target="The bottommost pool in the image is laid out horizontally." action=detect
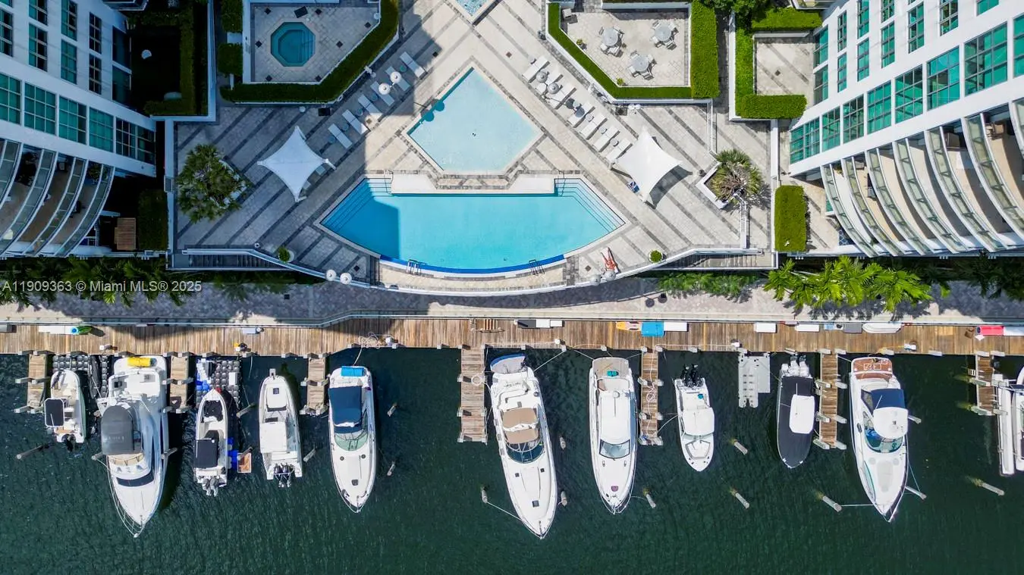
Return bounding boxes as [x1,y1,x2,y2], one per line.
[309,171,636,277]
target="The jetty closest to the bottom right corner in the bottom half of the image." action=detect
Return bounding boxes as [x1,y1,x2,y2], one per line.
[959,355,1009,416]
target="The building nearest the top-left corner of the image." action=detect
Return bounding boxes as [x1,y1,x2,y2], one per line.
[0,0,157,255]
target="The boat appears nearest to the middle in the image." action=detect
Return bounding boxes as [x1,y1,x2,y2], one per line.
[488,353,527,373]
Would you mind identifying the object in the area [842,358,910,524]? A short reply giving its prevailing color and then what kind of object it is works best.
white boat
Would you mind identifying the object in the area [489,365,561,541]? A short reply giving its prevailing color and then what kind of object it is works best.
white boat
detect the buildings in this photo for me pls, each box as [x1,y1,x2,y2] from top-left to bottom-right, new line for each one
[0,0,157,255]
[788,0,1024,255]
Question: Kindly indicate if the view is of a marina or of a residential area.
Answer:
marina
